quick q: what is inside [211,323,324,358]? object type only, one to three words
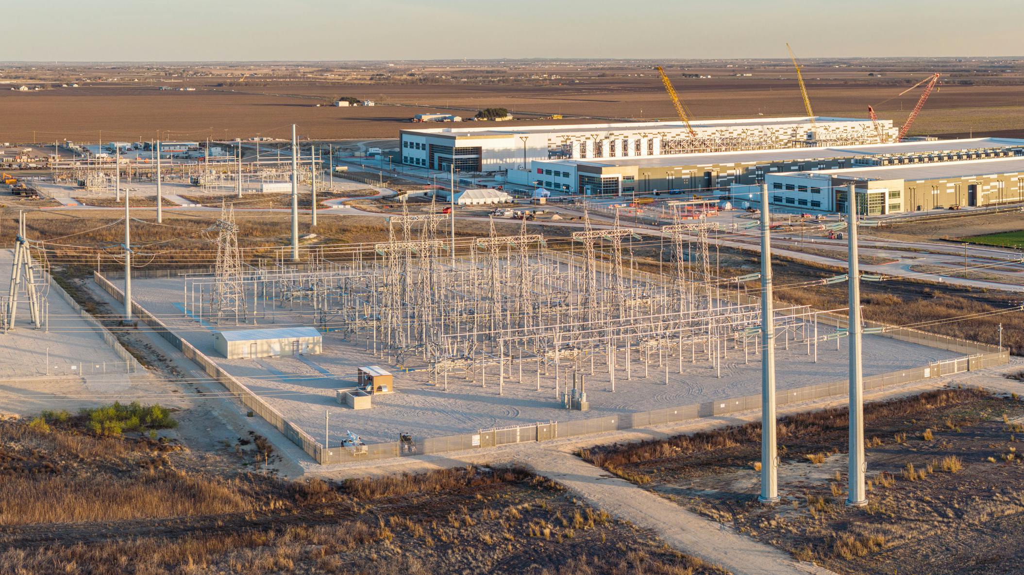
building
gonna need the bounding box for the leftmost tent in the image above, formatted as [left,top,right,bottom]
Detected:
[455,186,507,204]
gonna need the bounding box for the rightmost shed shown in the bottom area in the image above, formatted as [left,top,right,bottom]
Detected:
[359,367,393,396]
